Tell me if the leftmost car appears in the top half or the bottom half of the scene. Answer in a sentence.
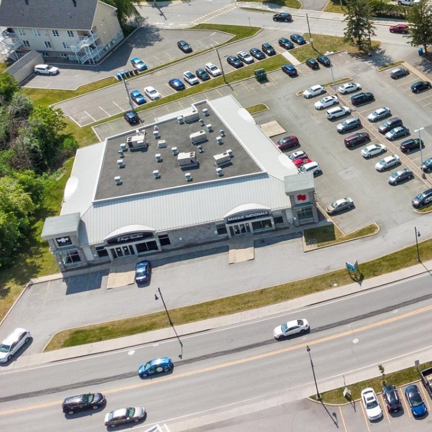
Seen from above, the leftmost car lies in the bottom half of the view.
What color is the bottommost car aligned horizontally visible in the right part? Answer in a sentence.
From above, the bottommost car aligned horizontally visible in the right part appears white.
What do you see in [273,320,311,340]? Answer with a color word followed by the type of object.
white car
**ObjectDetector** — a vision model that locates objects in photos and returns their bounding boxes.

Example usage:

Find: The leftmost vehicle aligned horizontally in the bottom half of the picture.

[57,392,108,416]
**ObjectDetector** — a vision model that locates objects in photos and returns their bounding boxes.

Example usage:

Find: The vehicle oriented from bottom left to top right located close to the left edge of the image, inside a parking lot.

[0,330,30,362]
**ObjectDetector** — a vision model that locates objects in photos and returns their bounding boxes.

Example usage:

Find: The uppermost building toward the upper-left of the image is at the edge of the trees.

[0,0,126,66]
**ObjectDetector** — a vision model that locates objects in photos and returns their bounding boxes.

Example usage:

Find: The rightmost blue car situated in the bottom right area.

[404,385,428,417]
